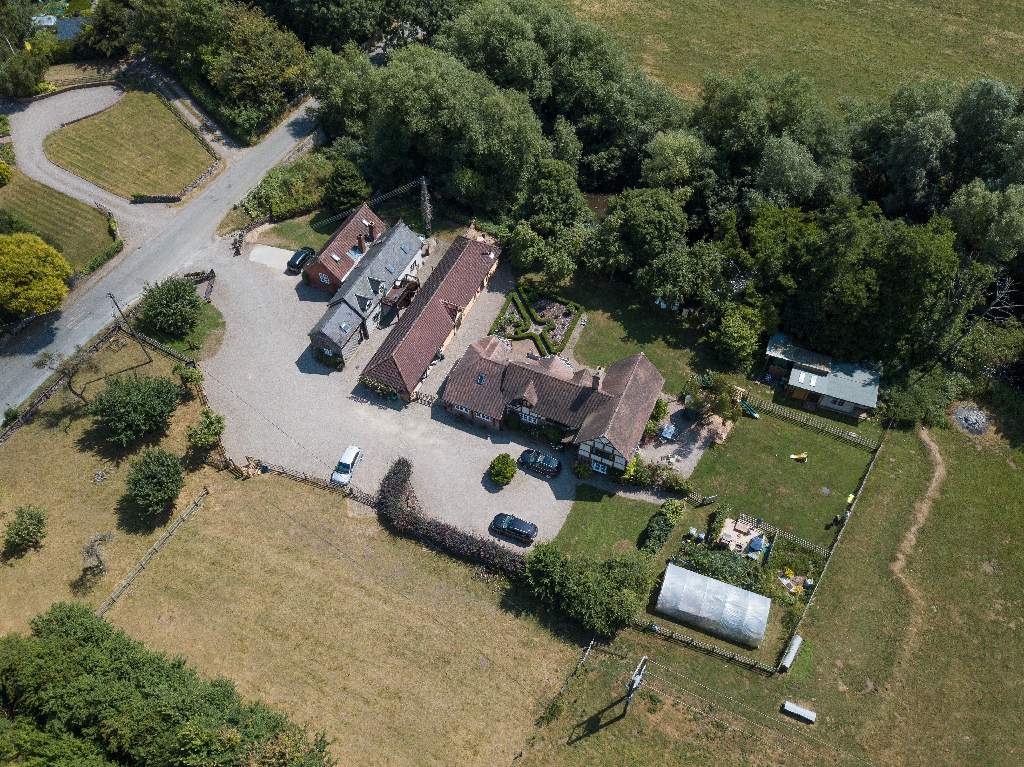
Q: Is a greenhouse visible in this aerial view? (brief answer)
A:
Yes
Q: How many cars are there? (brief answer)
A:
four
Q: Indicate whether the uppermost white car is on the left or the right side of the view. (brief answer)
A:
left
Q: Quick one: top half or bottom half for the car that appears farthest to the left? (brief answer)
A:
top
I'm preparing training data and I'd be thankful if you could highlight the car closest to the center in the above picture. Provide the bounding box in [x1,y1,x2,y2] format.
[518,447,562,475]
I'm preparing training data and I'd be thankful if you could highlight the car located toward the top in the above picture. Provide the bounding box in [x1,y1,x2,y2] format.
[286,248,315,271]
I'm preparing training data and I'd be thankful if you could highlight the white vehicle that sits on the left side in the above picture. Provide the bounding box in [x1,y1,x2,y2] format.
[332,446,365,484]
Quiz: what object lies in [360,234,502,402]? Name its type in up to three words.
barn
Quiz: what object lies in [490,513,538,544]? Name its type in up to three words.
car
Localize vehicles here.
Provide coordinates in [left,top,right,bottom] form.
[286,248,315,271]
[518,447,562,475]
[332,446,365,484]
[490,513,538,544]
